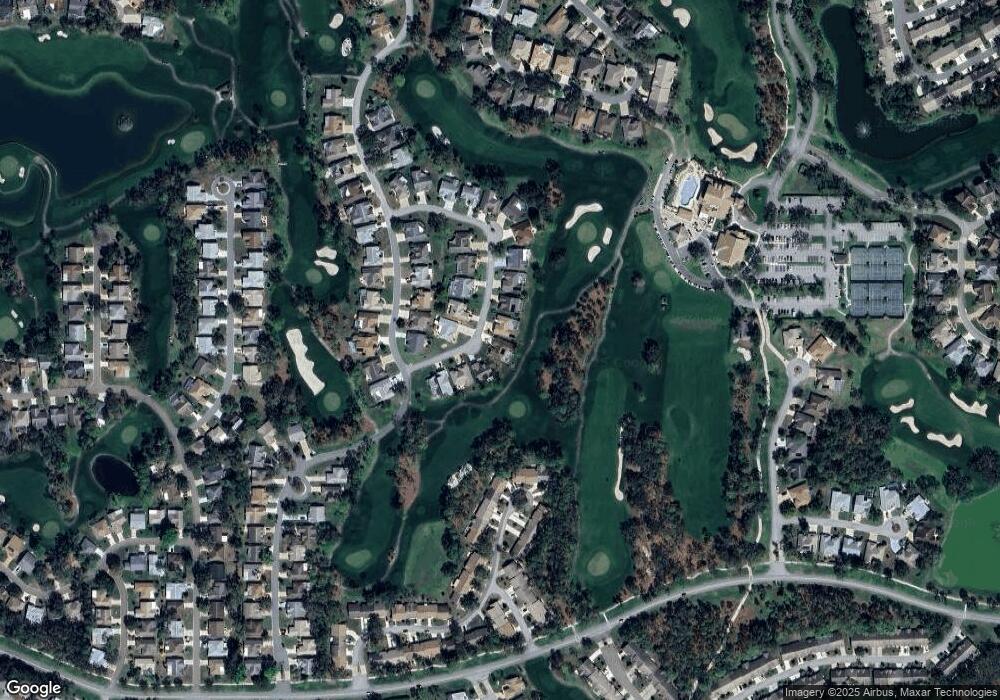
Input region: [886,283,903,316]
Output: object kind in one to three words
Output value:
tennis court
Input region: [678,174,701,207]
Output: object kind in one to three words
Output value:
swimming pool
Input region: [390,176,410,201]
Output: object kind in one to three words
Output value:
house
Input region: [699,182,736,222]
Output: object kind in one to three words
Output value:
building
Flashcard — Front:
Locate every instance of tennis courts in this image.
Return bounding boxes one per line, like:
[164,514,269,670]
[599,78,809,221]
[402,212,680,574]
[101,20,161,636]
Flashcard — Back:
[886,283,903,316]
[886,248,903,280]
[868,283,886,316]
[852,248,868,280]
[868,248,886,280]
[852,283,868,316]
